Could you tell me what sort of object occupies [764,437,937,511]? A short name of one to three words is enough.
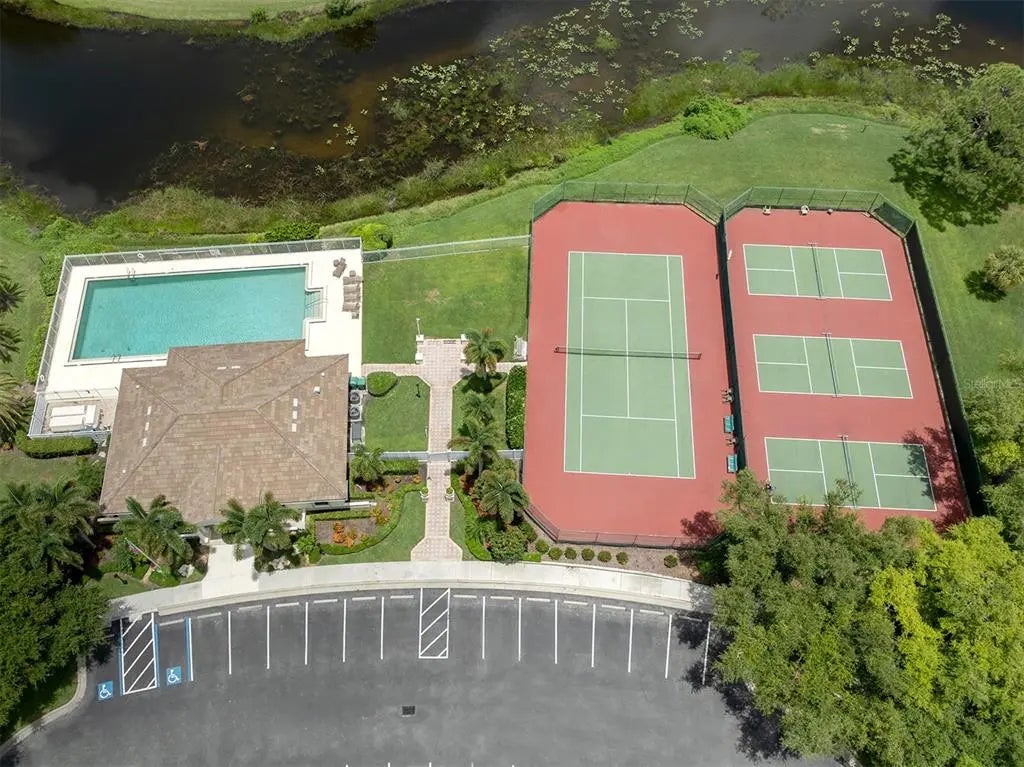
sports court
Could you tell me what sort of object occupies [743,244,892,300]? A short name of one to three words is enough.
sports court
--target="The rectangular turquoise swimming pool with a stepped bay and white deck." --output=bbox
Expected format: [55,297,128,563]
[47,249,362,440]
